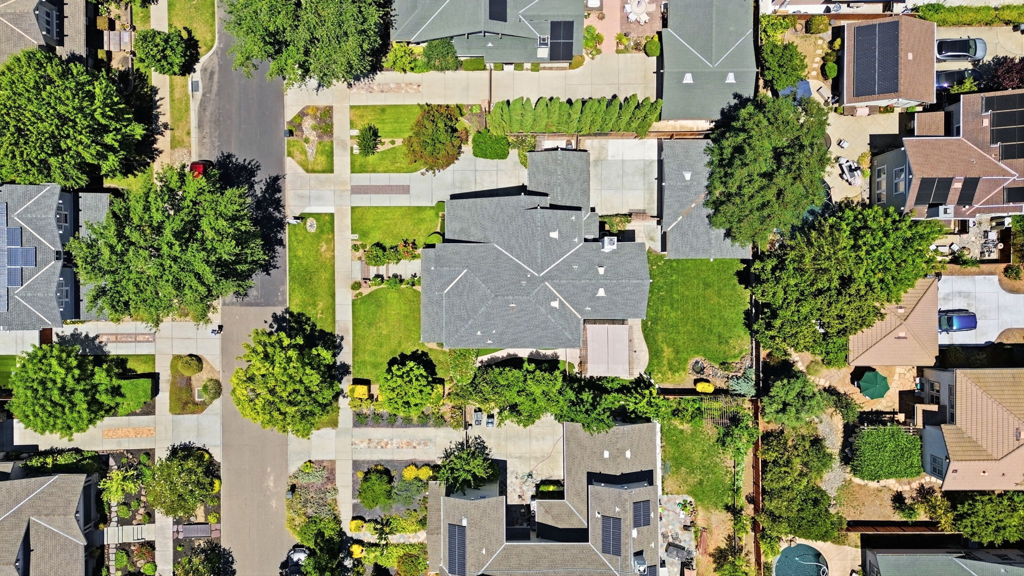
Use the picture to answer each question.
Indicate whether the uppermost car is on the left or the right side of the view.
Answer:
right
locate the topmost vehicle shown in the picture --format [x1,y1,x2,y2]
[937,38,986,64]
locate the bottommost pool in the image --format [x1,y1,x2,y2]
[773,544,829,576]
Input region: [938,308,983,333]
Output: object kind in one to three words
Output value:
car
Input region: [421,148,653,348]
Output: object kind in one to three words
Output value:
house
